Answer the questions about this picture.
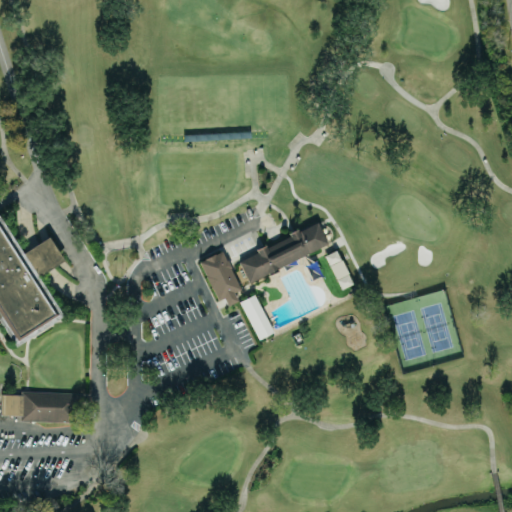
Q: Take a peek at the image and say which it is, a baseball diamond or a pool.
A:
pool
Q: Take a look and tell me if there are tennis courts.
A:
Yes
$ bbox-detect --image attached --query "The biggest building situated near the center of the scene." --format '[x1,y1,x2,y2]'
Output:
[240,224,328,283]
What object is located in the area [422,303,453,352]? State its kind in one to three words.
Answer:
tennis court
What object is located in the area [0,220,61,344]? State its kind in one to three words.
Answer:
building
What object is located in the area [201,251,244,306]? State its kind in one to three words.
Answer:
building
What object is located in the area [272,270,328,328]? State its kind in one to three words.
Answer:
swimming pool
